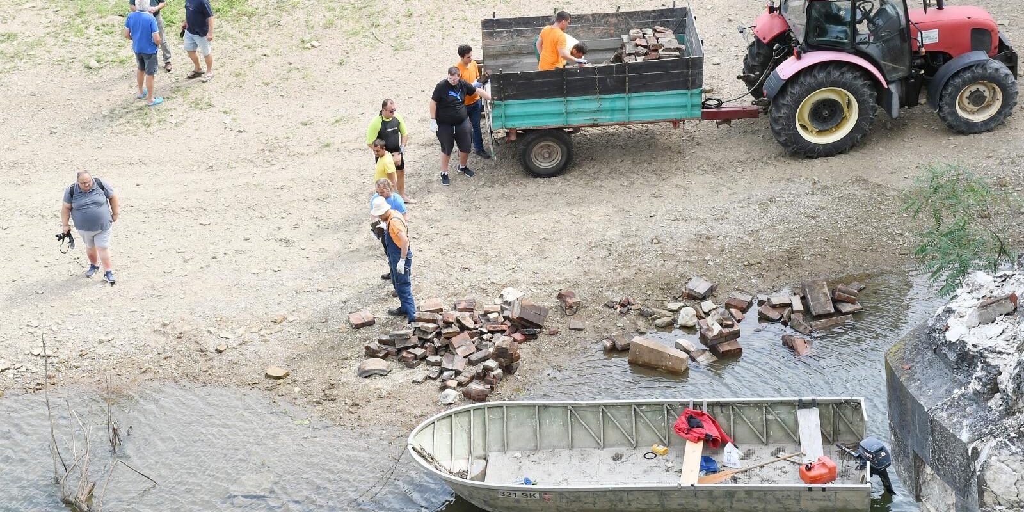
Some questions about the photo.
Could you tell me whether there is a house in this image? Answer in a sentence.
No, there is no house in the image.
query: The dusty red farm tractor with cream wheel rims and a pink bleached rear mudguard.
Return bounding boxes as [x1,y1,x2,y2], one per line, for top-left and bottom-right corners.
[718,0,1016,159]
